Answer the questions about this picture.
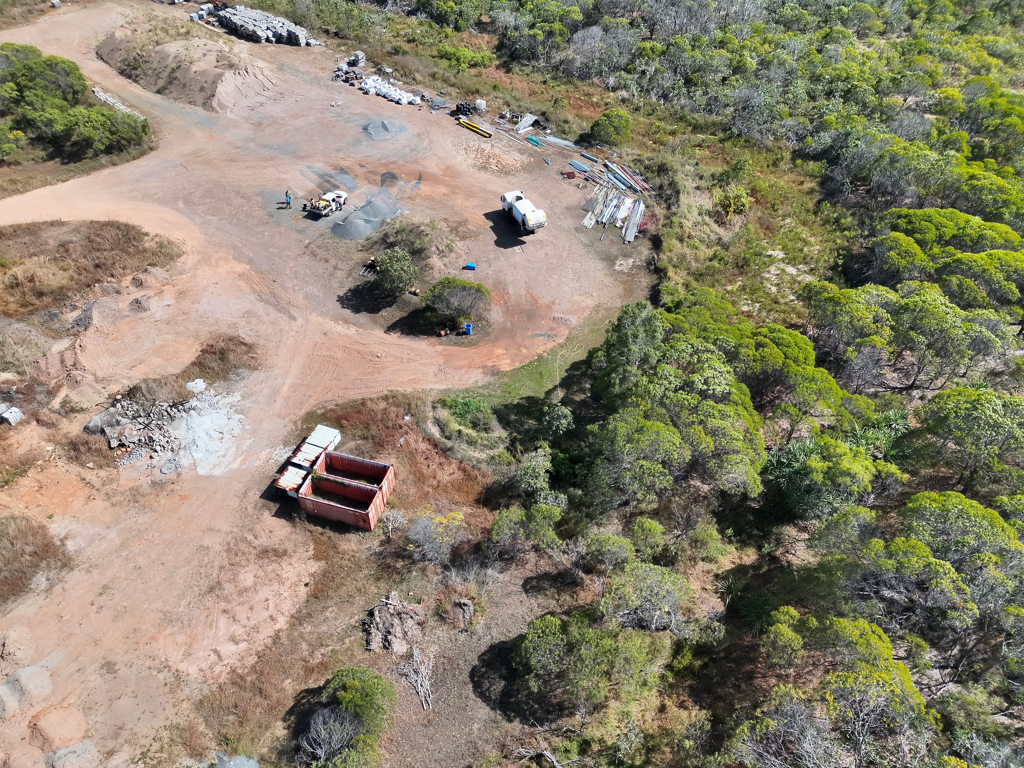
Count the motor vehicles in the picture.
two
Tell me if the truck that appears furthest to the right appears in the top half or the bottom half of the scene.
top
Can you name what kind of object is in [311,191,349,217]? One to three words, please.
truck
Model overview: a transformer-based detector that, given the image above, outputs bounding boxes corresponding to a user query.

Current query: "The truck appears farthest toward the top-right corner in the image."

[501,193,543,235]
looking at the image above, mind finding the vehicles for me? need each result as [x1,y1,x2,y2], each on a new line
[501,193,543,235]
[311,191,349,217]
